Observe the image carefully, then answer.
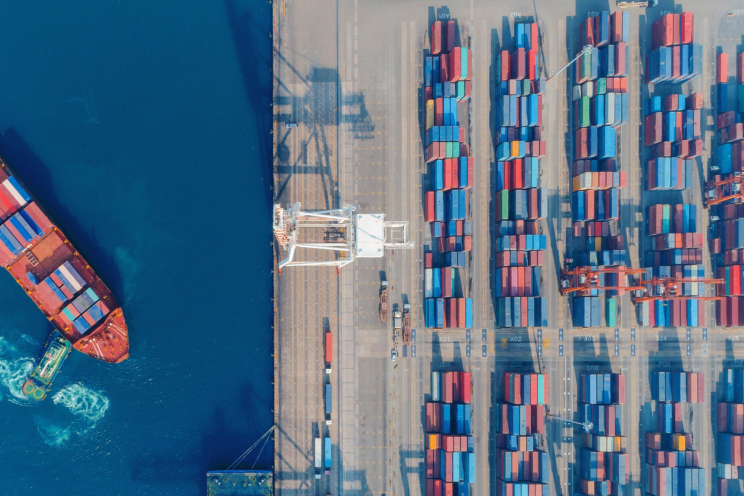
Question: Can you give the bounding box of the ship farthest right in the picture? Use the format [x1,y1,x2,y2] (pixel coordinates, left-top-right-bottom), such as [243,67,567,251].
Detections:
[207,469,273,496]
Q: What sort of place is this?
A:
port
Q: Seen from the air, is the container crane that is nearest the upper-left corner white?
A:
Yes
